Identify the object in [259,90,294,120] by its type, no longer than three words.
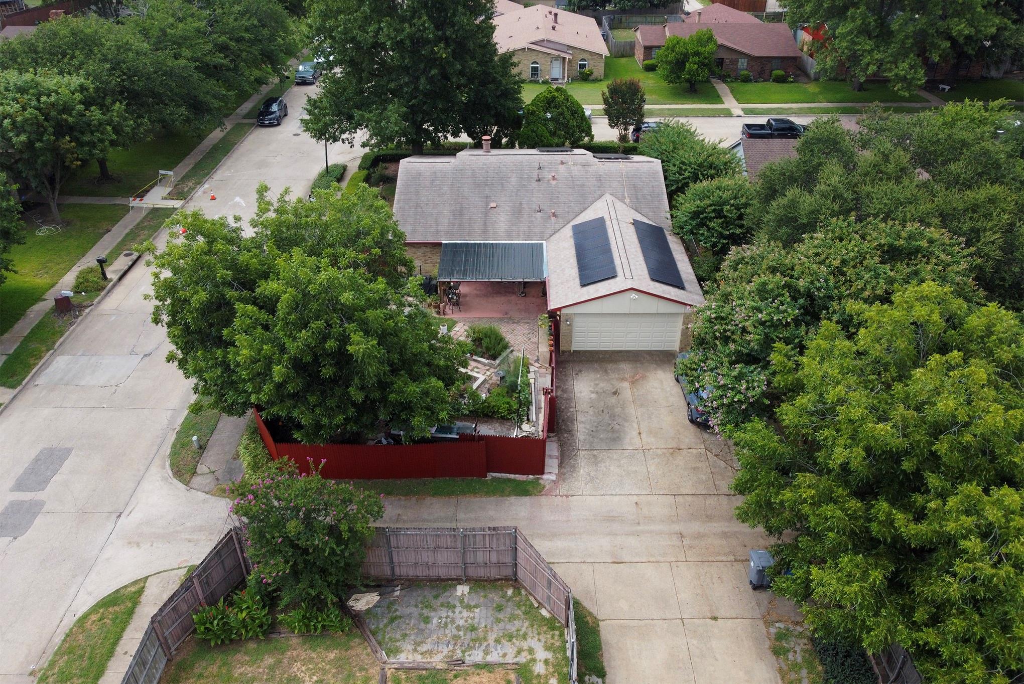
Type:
car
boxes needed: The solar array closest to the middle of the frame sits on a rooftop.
[570,214,617,286]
